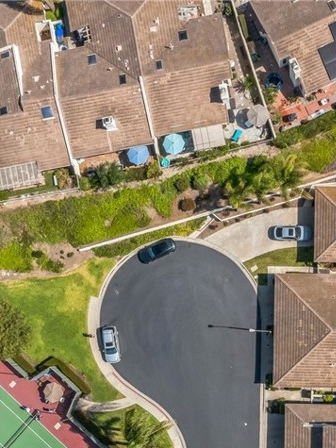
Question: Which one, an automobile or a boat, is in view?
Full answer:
Looking from above, you can make out an automobile.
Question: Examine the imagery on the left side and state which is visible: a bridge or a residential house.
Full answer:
It is a residential house that can be seen on the left side.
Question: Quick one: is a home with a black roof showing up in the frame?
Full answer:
No, there appears to be no home with a black roof in this shot.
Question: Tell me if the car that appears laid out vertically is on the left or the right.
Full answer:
The car that appears laid out vertically sits on the left side.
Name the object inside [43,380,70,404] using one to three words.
gazebo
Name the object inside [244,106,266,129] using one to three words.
umbrella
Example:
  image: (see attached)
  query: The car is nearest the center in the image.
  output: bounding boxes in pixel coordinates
[138,236,177,263]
